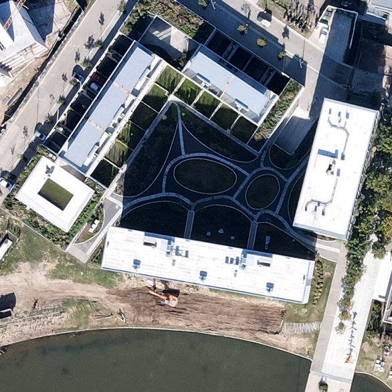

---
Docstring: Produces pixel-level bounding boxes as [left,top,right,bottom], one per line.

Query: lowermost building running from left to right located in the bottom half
[100,227,321,304]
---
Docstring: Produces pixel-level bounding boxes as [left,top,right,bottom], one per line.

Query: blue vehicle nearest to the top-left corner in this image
[69,71,86,85]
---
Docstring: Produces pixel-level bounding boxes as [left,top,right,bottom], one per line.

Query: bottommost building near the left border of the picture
[15,156,94,232]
